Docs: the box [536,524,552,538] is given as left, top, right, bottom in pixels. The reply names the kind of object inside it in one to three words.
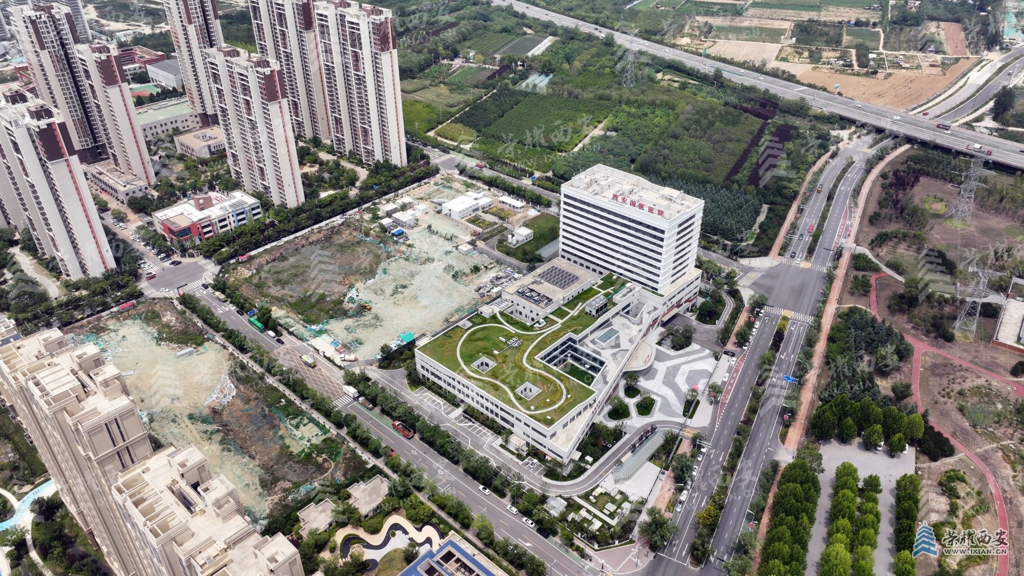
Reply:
car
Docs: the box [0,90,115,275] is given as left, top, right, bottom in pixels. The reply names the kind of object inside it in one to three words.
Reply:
building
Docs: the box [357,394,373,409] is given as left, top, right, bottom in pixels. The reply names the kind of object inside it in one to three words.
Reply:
vehicle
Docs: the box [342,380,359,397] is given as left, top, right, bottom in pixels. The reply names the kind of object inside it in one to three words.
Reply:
vehicle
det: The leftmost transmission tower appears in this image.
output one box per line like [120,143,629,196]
[624,30,637,80]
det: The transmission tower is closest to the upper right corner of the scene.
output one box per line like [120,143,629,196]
[954,150,1004,231]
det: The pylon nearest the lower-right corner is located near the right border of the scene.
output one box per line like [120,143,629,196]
[958,269,1001,340]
